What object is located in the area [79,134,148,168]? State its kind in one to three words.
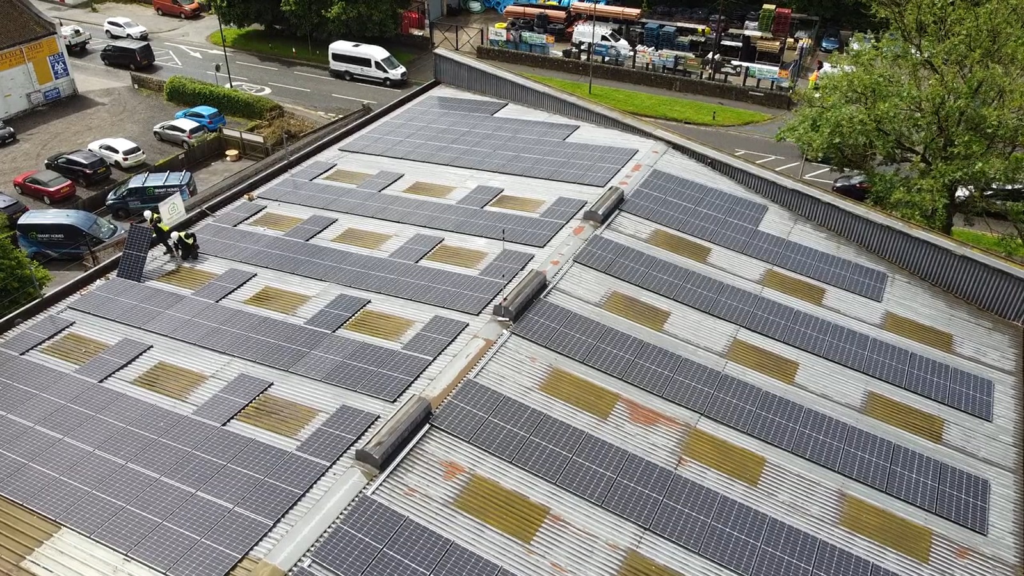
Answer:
car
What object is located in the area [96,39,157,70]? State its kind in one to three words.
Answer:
van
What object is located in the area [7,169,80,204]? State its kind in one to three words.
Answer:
car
